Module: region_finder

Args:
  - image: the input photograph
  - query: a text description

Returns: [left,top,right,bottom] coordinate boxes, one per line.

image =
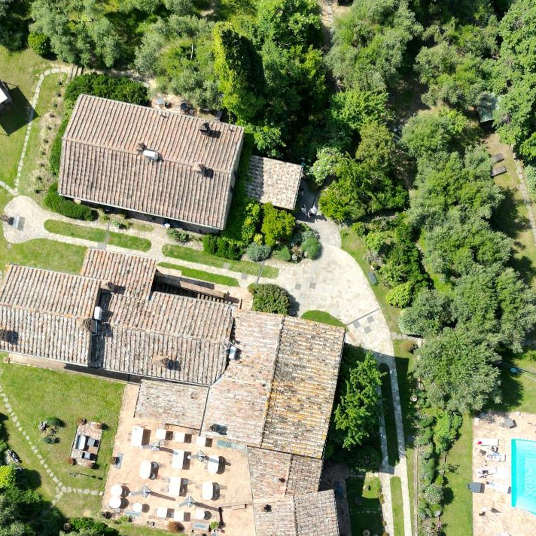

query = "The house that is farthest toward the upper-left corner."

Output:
[58,94,246,239]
